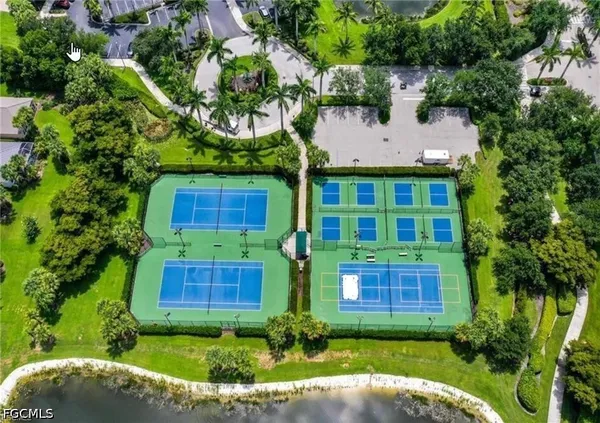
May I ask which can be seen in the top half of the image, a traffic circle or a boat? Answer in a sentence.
It is a traffic circle that can be seen in the top half of the image.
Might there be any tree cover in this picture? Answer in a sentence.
Yes, there is tree cover in the image.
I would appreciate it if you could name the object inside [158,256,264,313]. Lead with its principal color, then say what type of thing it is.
blue tennis court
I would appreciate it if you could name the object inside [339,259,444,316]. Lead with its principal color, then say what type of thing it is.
blue tennis court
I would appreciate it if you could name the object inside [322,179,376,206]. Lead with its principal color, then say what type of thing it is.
blue sports court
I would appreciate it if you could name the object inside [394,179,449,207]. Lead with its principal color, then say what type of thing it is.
blue sports court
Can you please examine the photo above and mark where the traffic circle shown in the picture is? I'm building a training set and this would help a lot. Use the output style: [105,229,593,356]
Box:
[201,45,290,128]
